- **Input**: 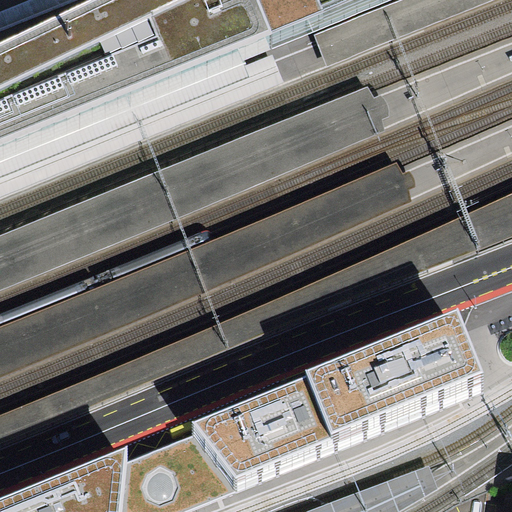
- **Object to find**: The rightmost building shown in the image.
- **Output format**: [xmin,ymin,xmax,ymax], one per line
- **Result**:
[306,309,482,456]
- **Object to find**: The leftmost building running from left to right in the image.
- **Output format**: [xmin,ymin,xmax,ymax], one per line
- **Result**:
[0,446,129,512]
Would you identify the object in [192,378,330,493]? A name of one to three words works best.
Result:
building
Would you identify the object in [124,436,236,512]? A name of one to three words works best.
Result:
building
